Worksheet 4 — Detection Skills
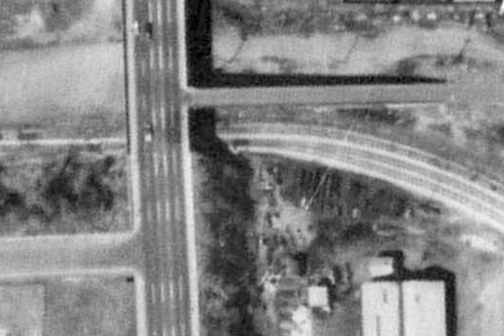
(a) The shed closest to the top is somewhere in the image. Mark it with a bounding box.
[370,256,394,277]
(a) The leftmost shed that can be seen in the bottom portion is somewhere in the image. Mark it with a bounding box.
[309,285,329,309]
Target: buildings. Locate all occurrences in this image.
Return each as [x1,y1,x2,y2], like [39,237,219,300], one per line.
[403,278,446,336]
[360,281,401,336]
[370,256,394,277]
[309,285,329,309]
